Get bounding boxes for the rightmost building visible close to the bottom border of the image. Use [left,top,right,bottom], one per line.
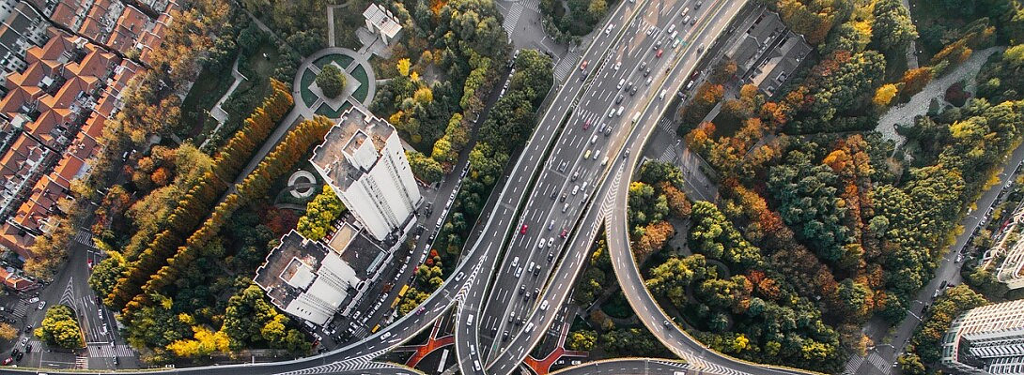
[942,297,1024,375]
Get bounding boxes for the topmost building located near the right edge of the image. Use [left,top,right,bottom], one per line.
[991,226,1024,289]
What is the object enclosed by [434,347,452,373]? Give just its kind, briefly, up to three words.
vehicle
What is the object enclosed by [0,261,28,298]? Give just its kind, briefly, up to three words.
house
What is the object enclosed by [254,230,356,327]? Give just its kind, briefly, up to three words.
building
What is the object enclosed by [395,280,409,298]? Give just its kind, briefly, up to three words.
vehicle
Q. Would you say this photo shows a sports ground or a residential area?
residential area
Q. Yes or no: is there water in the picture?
No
